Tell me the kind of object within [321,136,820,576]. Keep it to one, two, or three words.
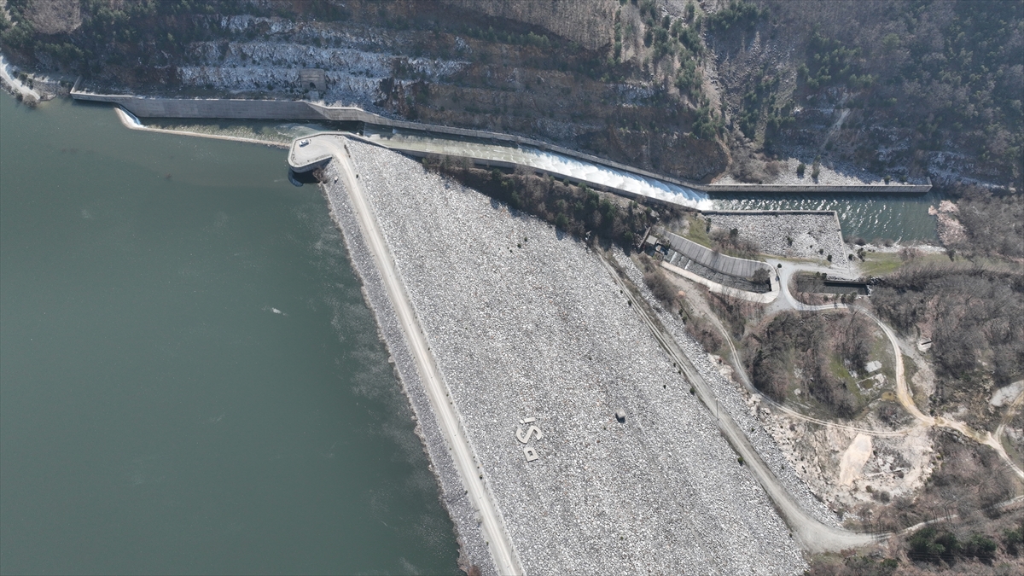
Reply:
dam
